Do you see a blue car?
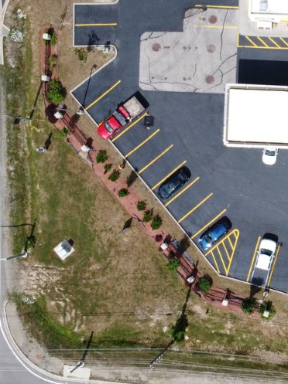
Yes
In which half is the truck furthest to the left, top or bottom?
top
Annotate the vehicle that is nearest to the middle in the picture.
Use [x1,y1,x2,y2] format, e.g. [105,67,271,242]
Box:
[158,165,192,200]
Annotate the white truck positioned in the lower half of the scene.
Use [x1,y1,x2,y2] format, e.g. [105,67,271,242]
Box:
[250,238,275,289]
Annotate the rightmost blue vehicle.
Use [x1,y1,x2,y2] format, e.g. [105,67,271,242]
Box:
[198,219,231,251]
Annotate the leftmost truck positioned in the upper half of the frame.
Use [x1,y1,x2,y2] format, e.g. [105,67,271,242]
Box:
[98,97,146,141]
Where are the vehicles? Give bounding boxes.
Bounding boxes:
[263,147,280,165]
[198,219,231,251]
[158,165,192,200]
[250,238,275,289]
[98,97,146,141]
